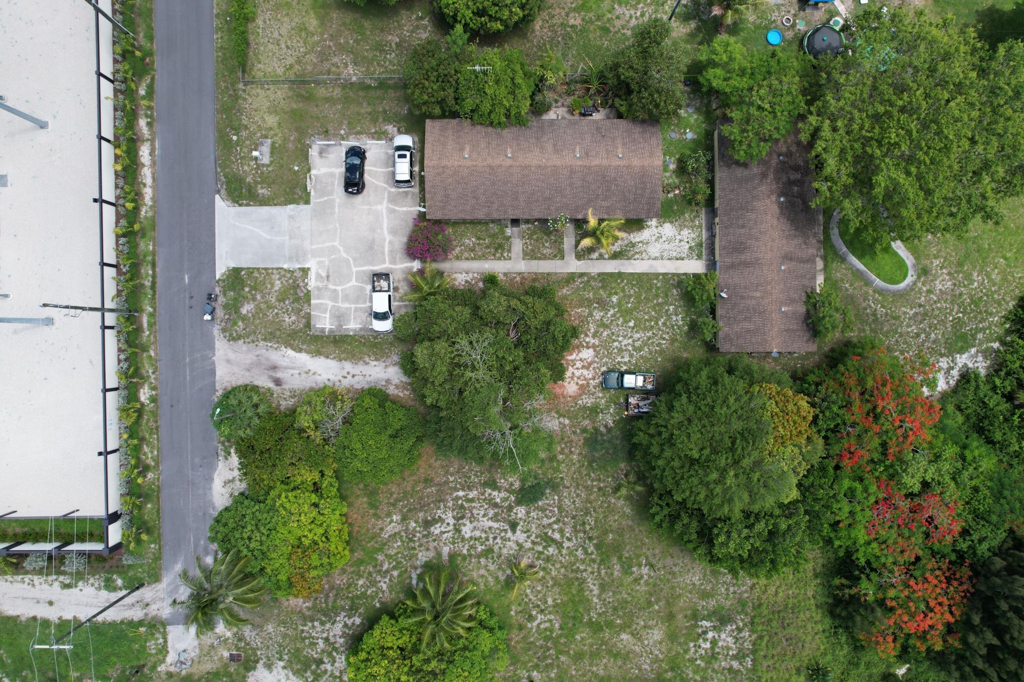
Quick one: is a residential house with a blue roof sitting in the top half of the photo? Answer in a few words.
No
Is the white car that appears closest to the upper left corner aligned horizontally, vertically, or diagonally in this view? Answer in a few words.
vertically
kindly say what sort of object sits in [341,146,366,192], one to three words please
car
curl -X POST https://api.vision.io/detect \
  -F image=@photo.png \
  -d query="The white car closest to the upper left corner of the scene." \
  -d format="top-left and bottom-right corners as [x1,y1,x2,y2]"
[391,134,416,187]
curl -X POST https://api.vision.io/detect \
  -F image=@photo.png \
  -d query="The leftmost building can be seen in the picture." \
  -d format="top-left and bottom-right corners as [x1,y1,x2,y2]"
[424,118,663,220]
